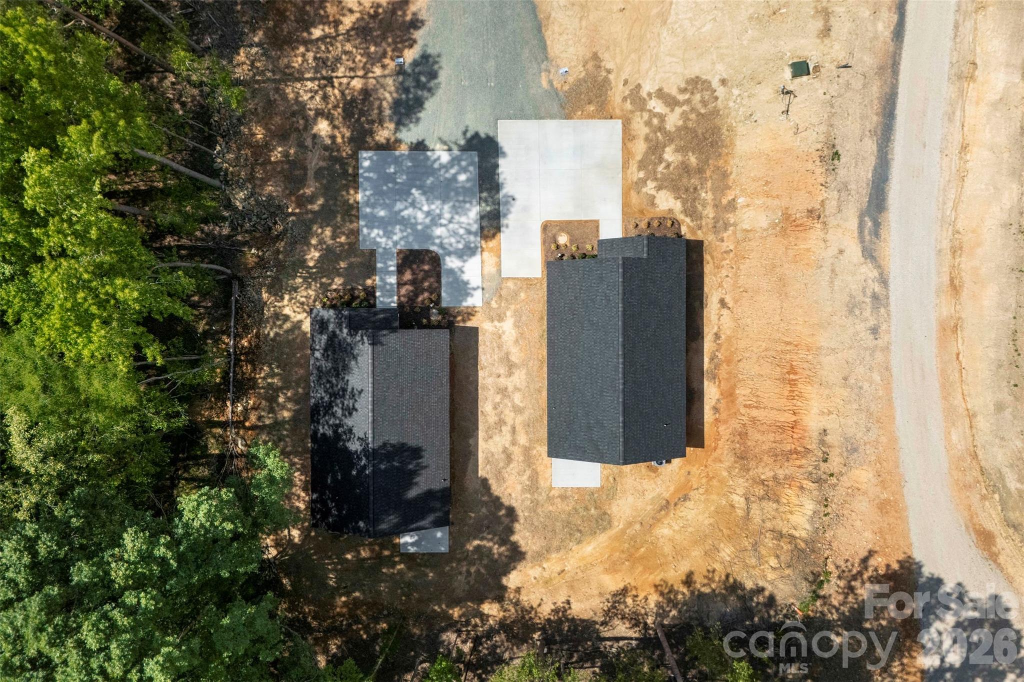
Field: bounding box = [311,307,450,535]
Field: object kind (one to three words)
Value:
house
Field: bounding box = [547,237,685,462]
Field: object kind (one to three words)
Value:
house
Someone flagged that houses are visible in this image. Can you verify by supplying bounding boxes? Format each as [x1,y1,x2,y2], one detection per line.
[547,237,685,462]
[311,307,450,535]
